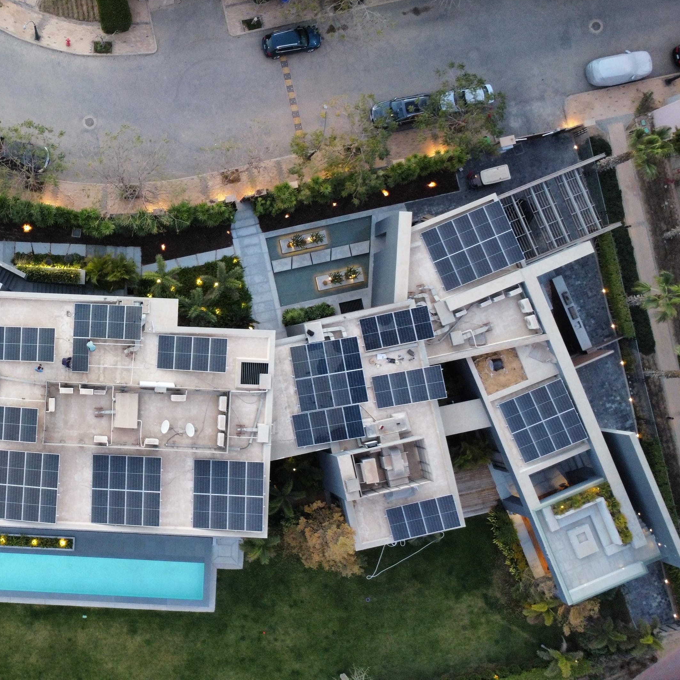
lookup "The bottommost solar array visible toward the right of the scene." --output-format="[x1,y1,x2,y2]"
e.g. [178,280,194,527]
[385,494,460,541]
